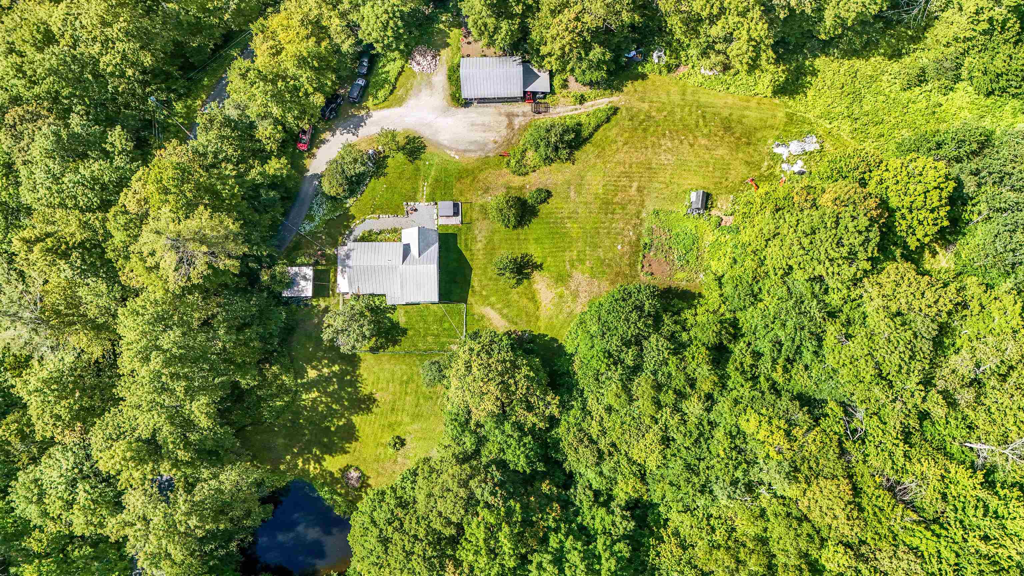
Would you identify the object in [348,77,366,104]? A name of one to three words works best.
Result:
car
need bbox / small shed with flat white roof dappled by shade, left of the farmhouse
[282,267,317,296]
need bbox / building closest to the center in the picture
[337,226,440,304]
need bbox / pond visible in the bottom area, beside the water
[241,481,356,576]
